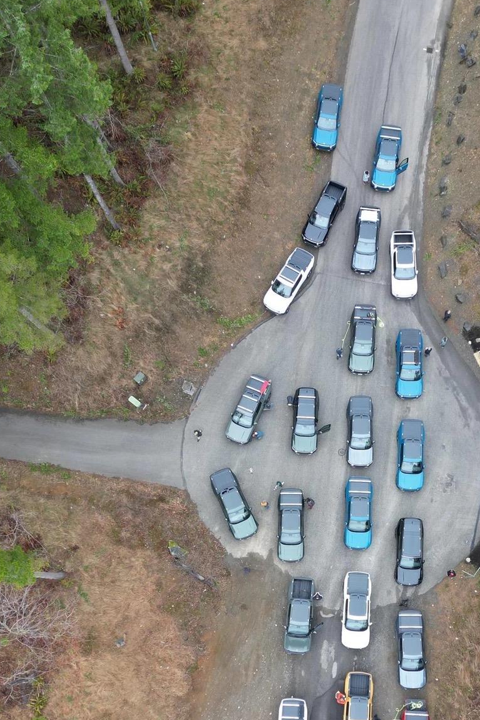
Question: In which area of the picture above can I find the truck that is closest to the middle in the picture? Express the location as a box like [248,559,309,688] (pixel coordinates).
[227,373,270,447]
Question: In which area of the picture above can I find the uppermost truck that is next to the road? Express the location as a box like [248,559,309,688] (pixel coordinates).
[313,85,342,150]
